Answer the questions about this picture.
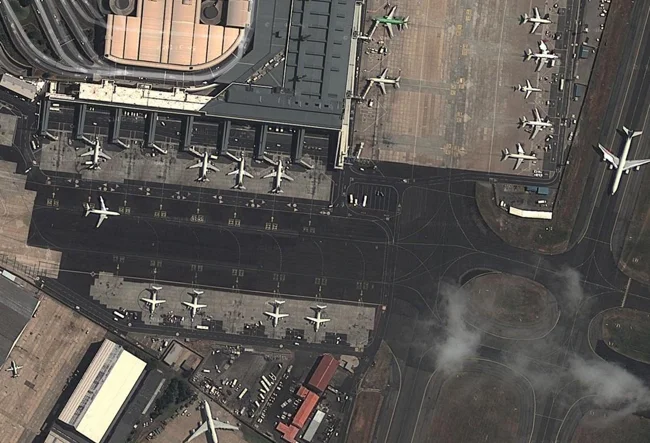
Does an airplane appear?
Yes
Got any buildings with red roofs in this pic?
Yes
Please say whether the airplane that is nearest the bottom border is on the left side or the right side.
left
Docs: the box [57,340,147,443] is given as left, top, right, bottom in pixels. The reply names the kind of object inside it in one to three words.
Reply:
hangar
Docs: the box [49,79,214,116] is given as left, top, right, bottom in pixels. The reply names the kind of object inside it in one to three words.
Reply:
building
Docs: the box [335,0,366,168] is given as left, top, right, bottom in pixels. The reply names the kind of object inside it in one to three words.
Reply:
building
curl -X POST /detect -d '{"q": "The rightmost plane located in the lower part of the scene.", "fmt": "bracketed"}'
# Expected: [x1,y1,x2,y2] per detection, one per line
[307,304,331,332]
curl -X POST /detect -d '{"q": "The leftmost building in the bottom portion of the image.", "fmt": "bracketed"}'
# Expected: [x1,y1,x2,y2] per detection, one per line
[0,274,39,369]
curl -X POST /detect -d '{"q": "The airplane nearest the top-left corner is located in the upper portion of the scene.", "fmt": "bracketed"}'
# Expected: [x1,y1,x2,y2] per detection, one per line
[80,136,112,169]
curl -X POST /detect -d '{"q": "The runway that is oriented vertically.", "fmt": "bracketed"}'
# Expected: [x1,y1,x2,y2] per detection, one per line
[571,0,650,261]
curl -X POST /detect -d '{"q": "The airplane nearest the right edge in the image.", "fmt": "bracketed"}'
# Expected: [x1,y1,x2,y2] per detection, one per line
[597,129,650,195]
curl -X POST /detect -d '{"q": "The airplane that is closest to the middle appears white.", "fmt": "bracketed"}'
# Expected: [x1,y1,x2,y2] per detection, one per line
[263,161,292,192]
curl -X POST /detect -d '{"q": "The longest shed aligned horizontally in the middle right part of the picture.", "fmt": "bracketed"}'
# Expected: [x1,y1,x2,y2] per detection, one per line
[509,207,553,219]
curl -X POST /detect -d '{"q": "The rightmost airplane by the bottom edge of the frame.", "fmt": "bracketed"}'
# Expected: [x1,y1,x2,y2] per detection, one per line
[189,400,240,443]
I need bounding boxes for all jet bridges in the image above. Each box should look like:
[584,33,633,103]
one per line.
[187,147,204,157]
[80,135,96,145]
[368,22,379,40]
[224,151,241,162]
[361,80,373,100]
[262,157,279,167]
[150,142,168,153]
[43,131,59,141]
[116,139,133,150]
[299,159,315,169]
[357,141,365,159]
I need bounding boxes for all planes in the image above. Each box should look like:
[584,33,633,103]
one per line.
[189,400,240,443]
[184,289,209,317]
[597,129,650,195]
[373,6,409,36]
[514,79,543,100]
[86,196,120,228]
[525,40,560,70]
[501,142,536,168]
[226,157,254,189]
[307,304,331,332]
[189,152,220,181]
[265,300,290,327]
[519,108,553,139]
[80,136,112,169]
[368,67,400,93]
[142,286,167,314]
[521,7,552,33]
[263,161,292,192]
